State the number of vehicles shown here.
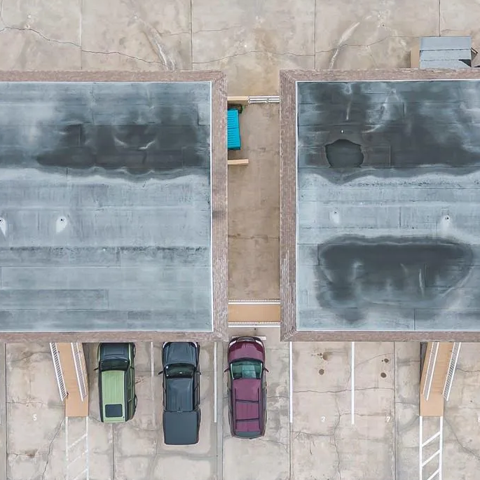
3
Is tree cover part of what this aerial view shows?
No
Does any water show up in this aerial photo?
No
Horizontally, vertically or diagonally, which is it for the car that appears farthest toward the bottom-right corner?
vertically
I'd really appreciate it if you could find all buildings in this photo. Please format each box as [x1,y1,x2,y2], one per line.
[0,69,228,344]
[281,67,480,343]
